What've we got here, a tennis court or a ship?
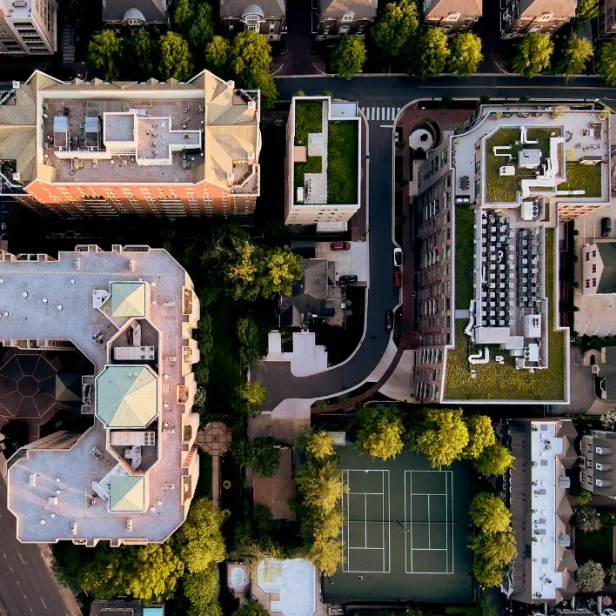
tennis court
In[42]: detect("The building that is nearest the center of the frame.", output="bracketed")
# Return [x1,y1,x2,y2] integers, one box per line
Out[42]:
[279,259,338,328]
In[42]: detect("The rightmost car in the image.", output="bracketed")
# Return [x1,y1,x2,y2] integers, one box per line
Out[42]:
[600,216,612,237]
